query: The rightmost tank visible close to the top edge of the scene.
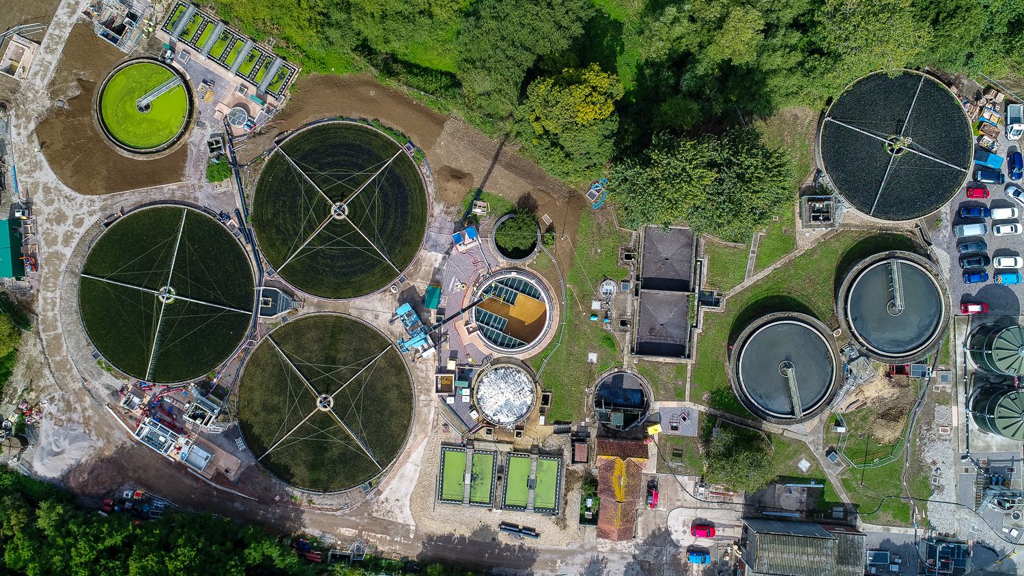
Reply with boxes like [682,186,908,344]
[160,0,302,98]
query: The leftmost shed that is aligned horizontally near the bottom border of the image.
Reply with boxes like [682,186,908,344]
[737,518,866,576]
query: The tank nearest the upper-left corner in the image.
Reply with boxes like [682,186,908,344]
[94,53,201,160]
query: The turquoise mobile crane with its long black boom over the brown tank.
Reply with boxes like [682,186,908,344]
[389,290,511,362]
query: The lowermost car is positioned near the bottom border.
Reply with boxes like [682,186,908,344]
[685,549,708,565]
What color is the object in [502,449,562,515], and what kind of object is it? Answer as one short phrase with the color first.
green storage tank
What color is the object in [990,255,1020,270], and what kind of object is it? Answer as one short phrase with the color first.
white car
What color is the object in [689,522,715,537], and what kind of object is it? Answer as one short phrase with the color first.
red car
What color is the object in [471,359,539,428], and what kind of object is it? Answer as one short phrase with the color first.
white storage tank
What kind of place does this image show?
industrial area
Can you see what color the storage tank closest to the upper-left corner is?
green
